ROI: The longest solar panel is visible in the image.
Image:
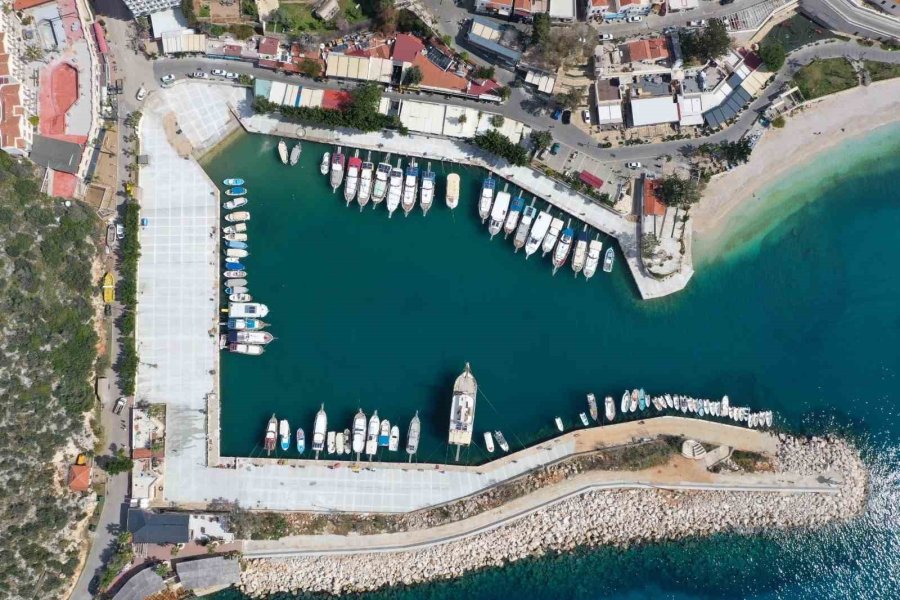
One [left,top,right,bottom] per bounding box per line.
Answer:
[422,46,452,71]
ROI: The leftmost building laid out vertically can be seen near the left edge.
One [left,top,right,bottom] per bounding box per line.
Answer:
[0,32,49,155]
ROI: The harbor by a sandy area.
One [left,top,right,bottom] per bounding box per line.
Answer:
[134,79,693,515]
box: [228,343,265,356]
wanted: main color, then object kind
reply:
white boat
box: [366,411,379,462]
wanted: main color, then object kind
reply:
white boat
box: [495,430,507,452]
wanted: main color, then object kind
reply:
gray boat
